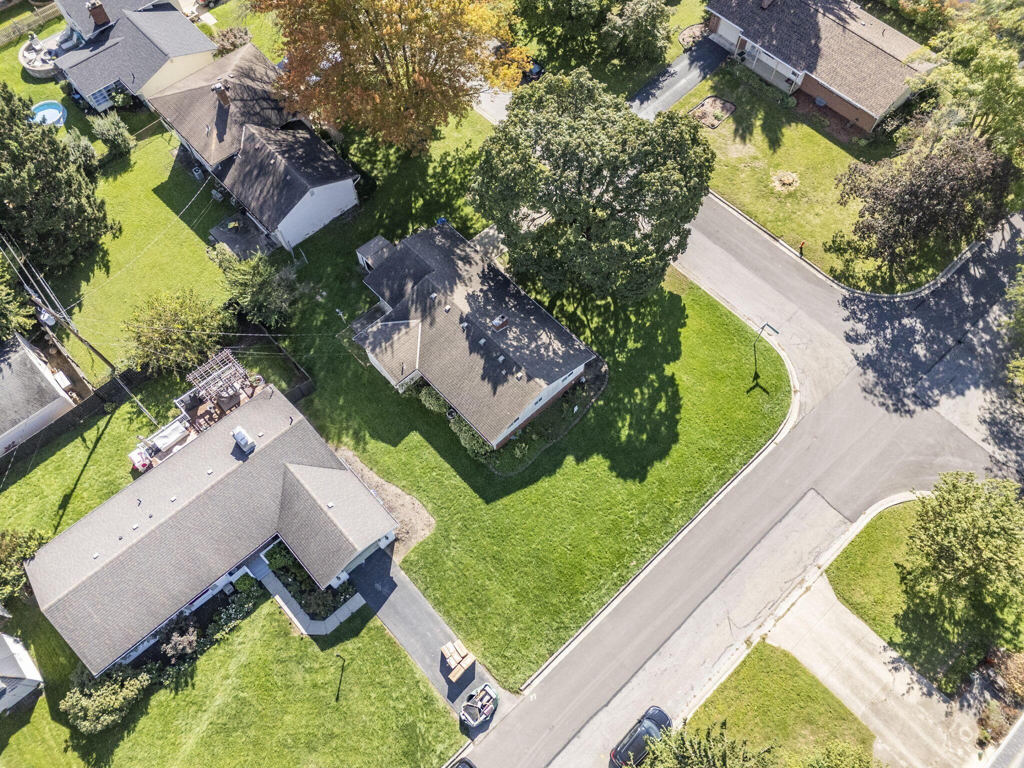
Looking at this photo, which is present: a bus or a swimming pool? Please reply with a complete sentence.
The image shows a swimming pool.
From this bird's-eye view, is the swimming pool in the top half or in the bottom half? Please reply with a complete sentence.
The swimming pool sits in the top half of the picture.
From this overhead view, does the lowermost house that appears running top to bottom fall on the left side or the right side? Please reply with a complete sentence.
You can find the lowermost house that appears running top to bottom on the left side of the picture.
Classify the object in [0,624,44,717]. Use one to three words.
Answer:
house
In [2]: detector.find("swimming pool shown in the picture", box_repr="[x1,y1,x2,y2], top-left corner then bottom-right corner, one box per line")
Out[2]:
[29,100,73,132]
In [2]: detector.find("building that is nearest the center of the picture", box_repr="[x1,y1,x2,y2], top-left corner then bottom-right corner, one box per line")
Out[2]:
[352,224,597,452]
